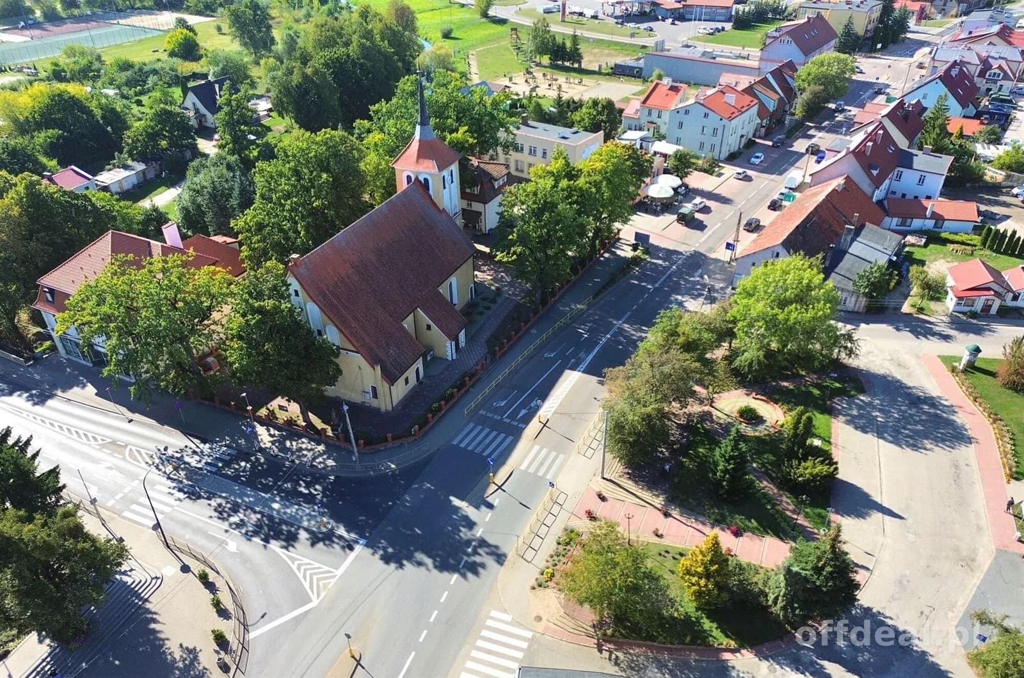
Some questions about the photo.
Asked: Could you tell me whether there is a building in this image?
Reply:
Yes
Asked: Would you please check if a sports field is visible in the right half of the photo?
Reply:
No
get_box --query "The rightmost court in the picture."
[98,9,212,29]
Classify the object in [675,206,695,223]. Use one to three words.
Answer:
car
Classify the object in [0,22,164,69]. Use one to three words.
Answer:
sports court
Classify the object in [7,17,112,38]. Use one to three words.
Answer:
sports court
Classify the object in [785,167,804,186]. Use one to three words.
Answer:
vehicle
